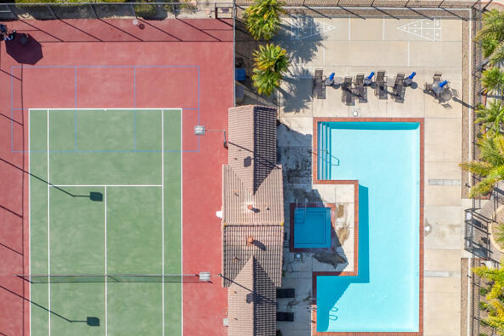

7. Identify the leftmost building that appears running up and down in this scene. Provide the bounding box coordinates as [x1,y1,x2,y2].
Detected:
[218,102,287,336]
